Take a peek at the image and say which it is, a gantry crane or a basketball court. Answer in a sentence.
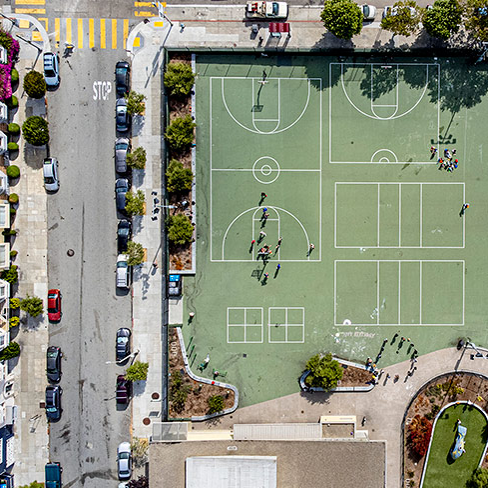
The one in the frame is a basketball court.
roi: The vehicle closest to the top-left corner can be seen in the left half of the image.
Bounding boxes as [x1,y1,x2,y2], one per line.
[43,53,60,89]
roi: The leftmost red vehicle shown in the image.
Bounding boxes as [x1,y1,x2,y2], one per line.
[46,288,63,321]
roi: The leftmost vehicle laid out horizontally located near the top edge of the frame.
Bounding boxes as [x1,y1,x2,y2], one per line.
[245,0,288,20]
